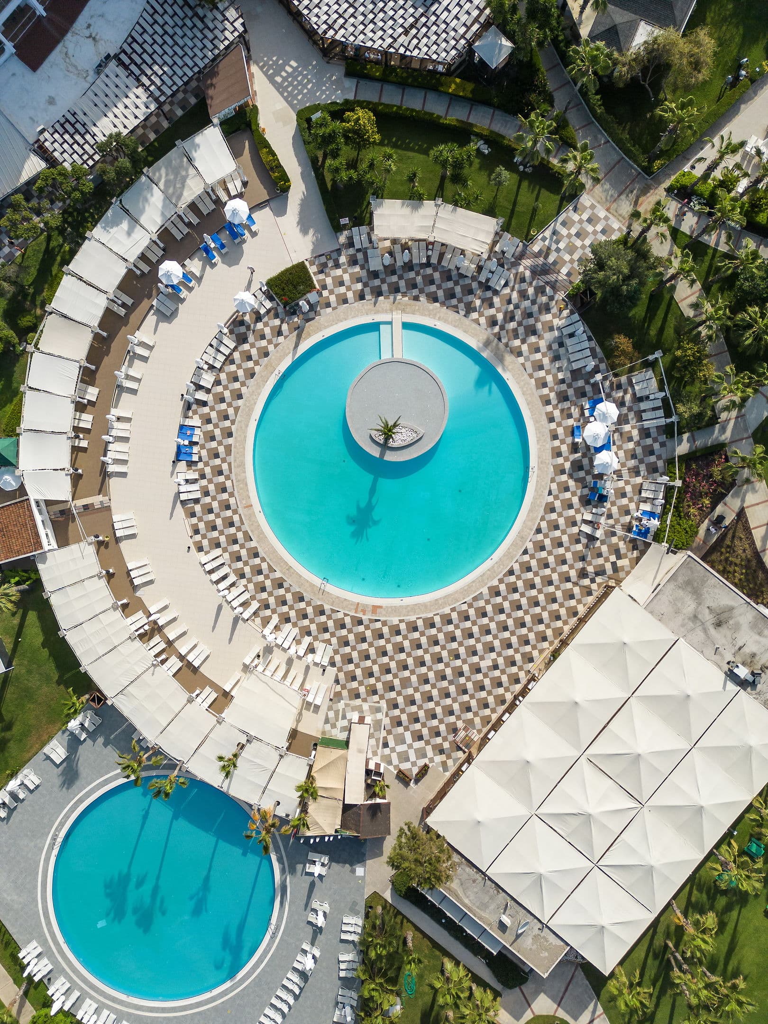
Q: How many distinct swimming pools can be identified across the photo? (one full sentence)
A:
In total, there are 2 swimming pools in the scene.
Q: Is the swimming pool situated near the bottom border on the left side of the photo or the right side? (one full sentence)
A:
You can find the swimming pool situated near the bottom border on the left side of the picture.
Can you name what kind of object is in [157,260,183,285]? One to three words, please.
umbrella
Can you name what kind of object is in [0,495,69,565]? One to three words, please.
house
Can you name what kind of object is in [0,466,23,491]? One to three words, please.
umbrella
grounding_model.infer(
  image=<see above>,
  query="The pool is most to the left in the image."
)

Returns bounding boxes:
[39,762,289,1013]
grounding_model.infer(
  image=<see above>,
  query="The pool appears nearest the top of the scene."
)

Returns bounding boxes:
[231,300,551,620]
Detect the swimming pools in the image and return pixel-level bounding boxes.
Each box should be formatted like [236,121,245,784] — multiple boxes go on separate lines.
[39,762,289,1013]
[231,300,551,620]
